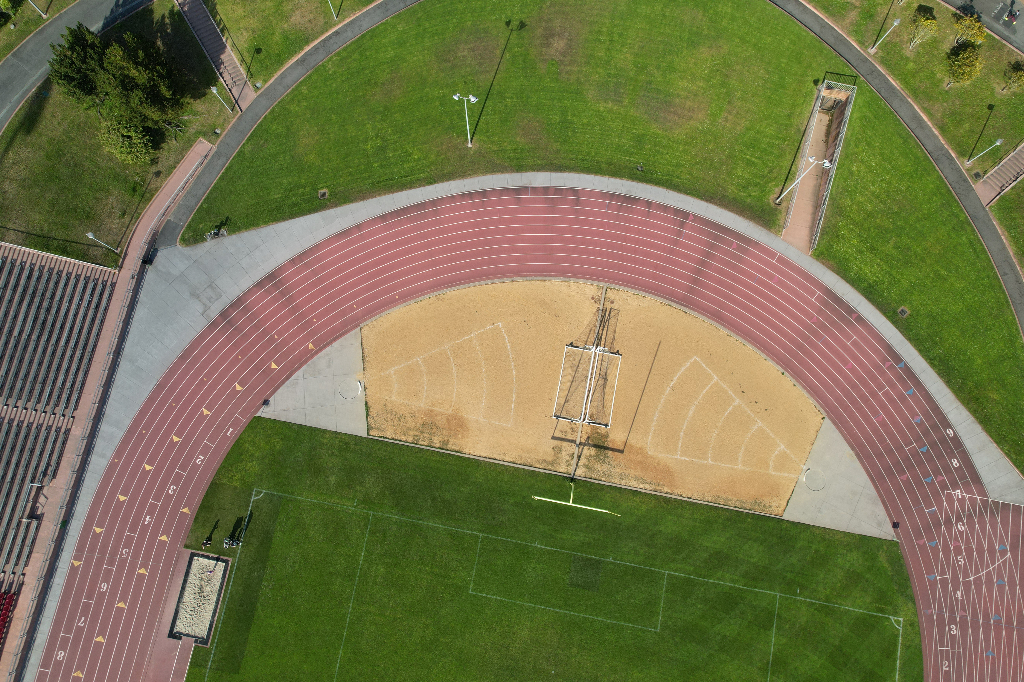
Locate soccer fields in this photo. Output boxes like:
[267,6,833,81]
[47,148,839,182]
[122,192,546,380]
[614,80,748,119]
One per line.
[184,414,923,682]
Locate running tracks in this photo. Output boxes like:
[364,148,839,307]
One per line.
[32,183,1024,682]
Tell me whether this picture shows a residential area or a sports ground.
sports ground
